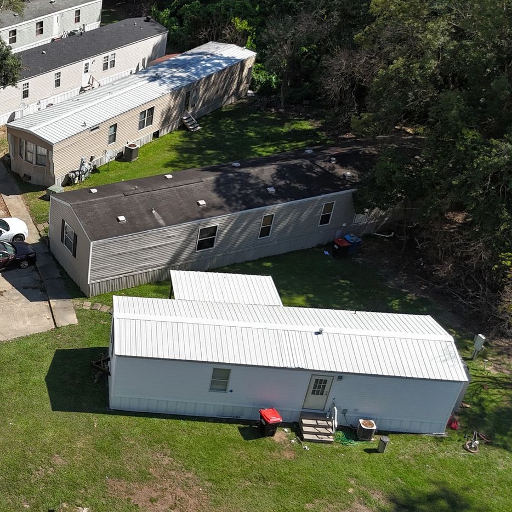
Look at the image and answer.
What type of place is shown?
residential area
